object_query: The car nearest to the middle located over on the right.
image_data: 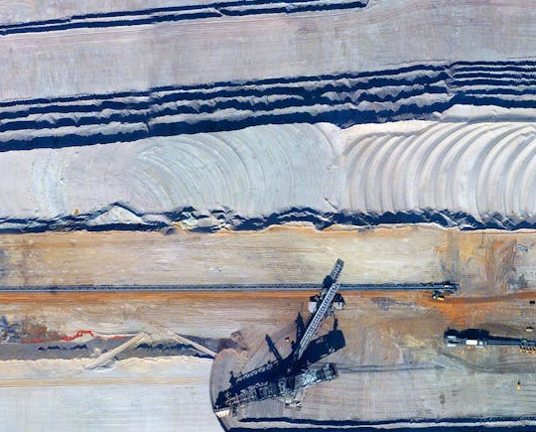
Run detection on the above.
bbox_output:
[308,288,344,310]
